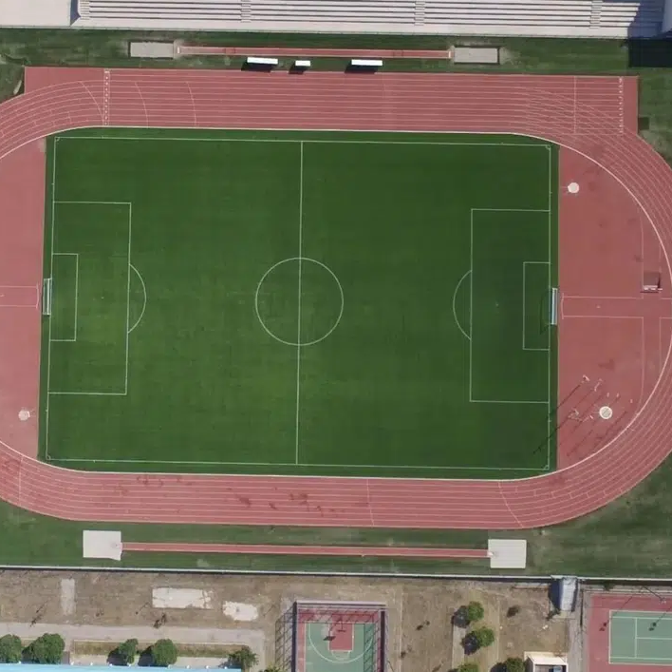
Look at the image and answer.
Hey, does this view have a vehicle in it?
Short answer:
No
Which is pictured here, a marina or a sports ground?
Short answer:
sports ground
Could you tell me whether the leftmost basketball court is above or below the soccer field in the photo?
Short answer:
below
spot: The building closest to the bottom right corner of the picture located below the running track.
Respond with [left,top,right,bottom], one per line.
[528,655,568,672]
